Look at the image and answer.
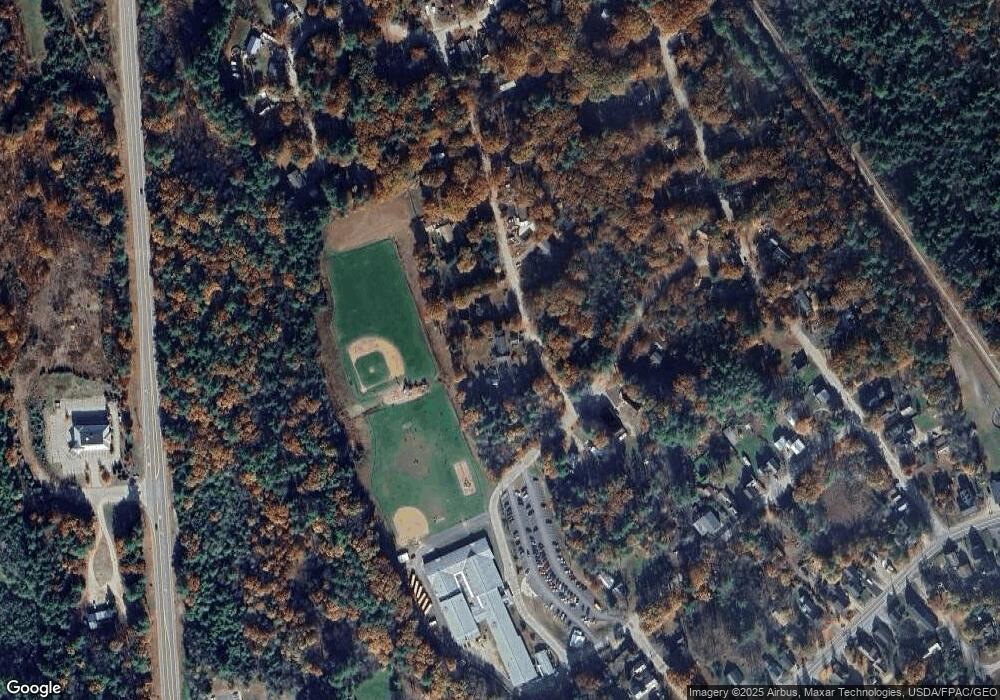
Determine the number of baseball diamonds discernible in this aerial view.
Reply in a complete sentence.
The picture shows 2 baseball diamonds.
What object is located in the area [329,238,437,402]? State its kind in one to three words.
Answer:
baseball field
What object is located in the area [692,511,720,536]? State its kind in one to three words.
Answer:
house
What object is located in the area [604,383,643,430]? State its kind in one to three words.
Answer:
building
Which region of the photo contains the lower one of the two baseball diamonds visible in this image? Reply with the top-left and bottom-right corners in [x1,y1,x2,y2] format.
[367,381,487,551]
